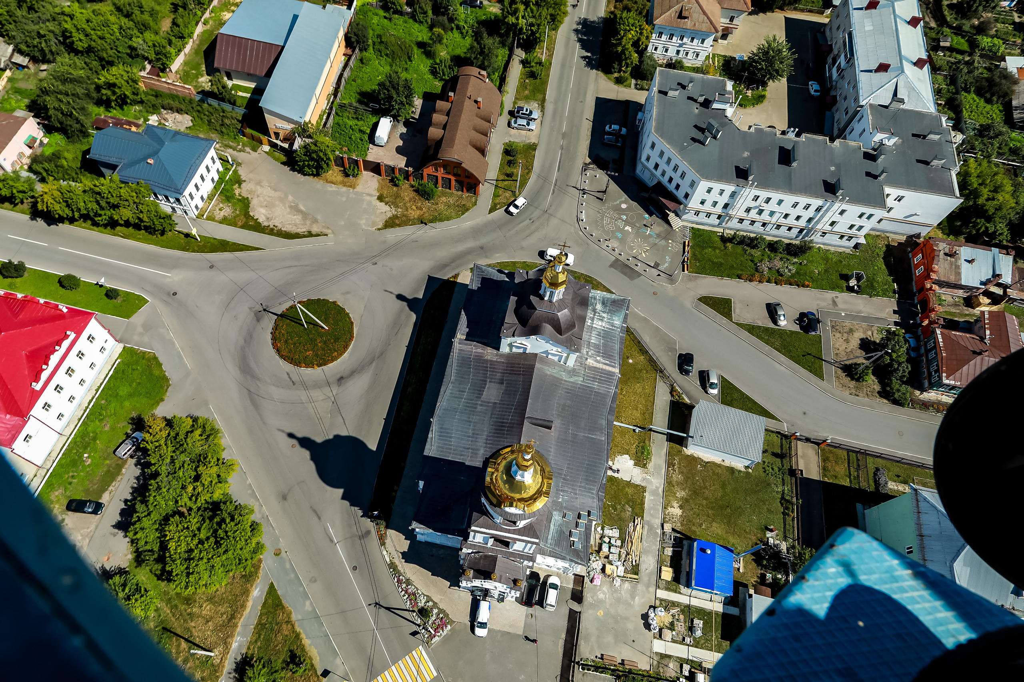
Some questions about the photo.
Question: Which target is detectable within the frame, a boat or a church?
church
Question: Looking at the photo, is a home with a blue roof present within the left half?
Yes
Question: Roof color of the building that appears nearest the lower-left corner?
red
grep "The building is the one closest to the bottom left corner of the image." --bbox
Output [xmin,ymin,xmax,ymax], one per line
[0,289,121,494]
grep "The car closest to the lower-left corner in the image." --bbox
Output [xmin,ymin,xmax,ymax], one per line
[64,500,108,518]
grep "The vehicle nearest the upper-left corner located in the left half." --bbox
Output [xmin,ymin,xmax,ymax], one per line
[377,121,392,141]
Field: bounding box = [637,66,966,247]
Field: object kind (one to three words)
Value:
building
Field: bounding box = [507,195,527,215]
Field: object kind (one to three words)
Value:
car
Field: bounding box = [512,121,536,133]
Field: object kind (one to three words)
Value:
vehicle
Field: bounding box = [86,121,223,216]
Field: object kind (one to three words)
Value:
house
